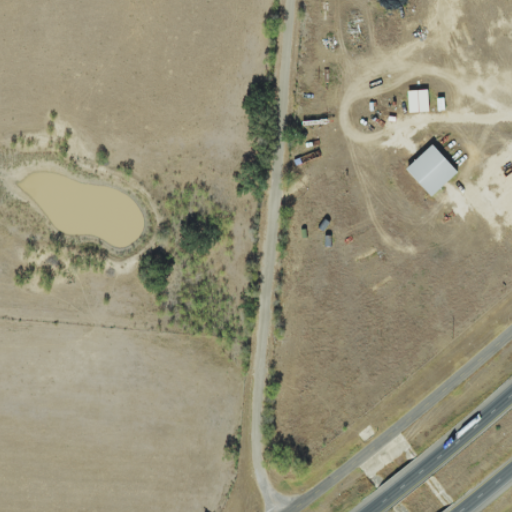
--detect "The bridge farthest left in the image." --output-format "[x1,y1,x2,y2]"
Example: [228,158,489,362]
[379,458,432,508]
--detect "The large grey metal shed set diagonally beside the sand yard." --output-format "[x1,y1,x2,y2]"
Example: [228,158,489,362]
[408,145,458,195]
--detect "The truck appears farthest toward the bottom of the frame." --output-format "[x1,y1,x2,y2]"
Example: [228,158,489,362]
[444,416,483,449]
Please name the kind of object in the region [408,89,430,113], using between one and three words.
barn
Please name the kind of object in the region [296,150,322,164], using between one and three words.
vehicle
